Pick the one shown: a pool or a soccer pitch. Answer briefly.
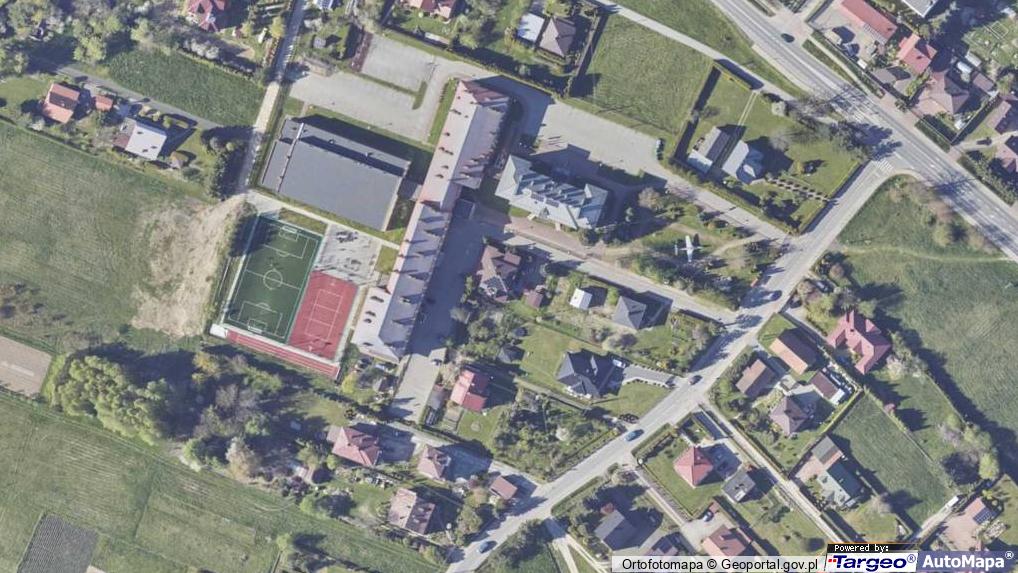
soccer pitch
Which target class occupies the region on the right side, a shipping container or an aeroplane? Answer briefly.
aeroplane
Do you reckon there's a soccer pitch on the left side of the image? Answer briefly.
Yes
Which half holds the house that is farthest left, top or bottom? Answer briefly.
top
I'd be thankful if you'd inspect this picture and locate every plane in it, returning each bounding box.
[676,236,703,262]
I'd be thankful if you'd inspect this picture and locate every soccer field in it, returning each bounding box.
[223,215,323,343]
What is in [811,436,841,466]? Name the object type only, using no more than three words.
building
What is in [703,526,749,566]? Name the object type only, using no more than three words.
house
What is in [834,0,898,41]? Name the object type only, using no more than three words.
building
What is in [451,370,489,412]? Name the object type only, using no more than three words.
house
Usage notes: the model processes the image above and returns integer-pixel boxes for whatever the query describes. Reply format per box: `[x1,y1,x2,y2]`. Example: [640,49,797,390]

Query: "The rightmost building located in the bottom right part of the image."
[969,497,998,525]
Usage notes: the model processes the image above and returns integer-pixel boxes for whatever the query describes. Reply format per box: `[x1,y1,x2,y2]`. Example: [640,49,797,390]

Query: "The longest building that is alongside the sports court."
[352,81,509,362]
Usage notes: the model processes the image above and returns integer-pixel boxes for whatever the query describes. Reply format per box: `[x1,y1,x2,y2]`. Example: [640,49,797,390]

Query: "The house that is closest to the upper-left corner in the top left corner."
[43,83,80,123]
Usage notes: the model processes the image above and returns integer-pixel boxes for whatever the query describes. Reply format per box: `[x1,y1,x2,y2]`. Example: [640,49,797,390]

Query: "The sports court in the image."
[288,271,359,360]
